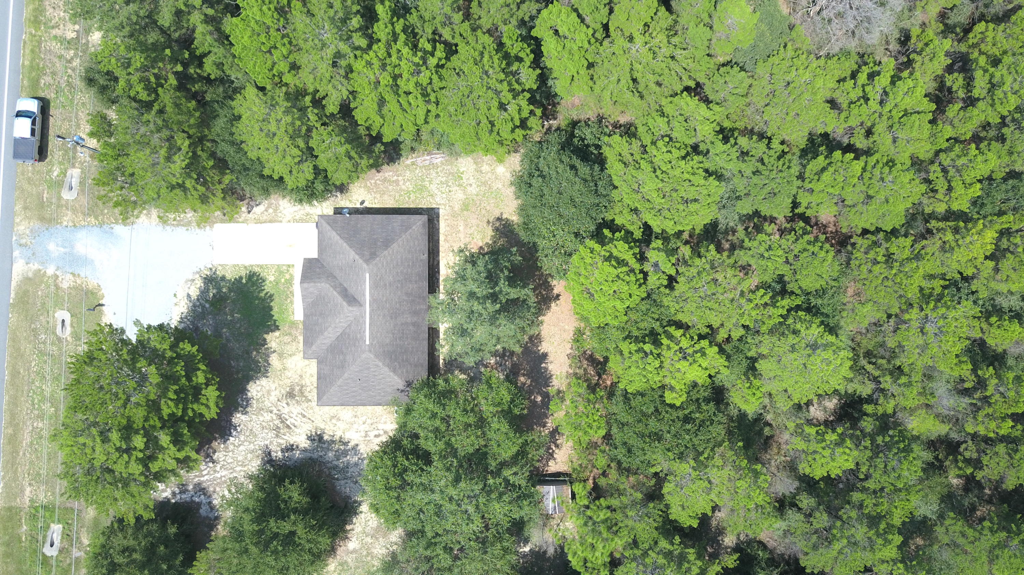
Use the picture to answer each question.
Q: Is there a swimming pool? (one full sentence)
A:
No, I find no swimming pool anywhere in the image.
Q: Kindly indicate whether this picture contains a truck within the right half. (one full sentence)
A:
No, no truck can be made out within the right half.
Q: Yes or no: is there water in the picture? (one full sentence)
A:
No, the picture contains no water.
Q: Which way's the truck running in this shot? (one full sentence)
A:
What the image shows is the truck lying up and down.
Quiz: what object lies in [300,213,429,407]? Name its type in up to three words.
house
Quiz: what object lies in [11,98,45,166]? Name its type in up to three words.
truck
